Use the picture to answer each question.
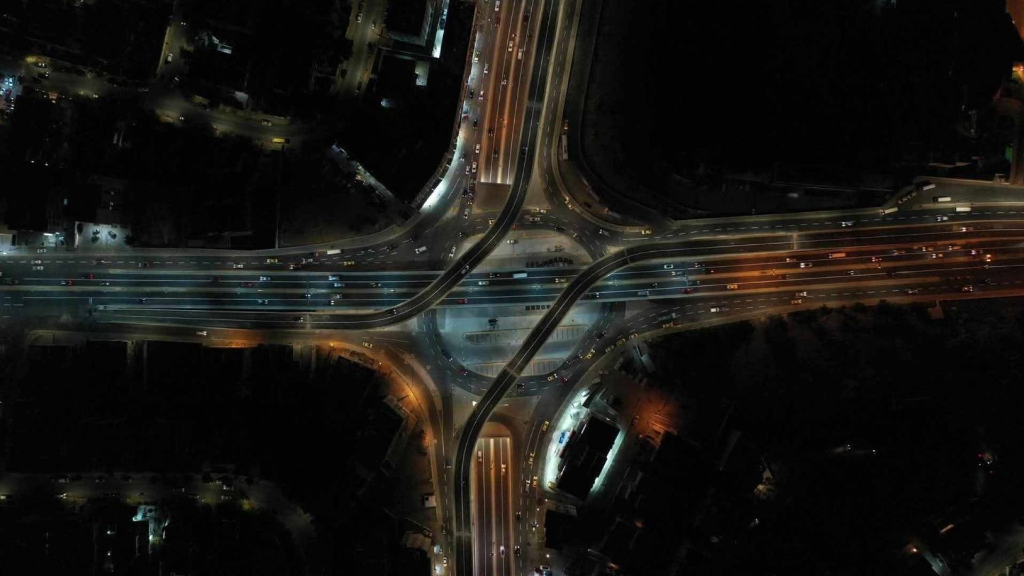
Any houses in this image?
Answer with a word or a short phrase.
Yes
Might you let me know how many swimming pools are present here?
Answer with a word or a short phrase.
0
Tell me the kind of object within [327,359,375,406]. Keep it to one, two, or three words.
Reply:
house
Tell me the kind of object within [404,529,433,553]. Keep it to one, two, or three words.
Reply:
house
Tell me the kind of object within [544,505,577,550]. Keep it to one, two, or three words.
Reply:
building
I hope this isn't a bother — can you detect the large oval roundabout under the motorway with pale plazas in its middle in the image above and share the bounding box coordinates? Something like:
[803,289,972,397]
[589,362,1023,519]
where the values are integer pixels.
[417,209,624,398]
